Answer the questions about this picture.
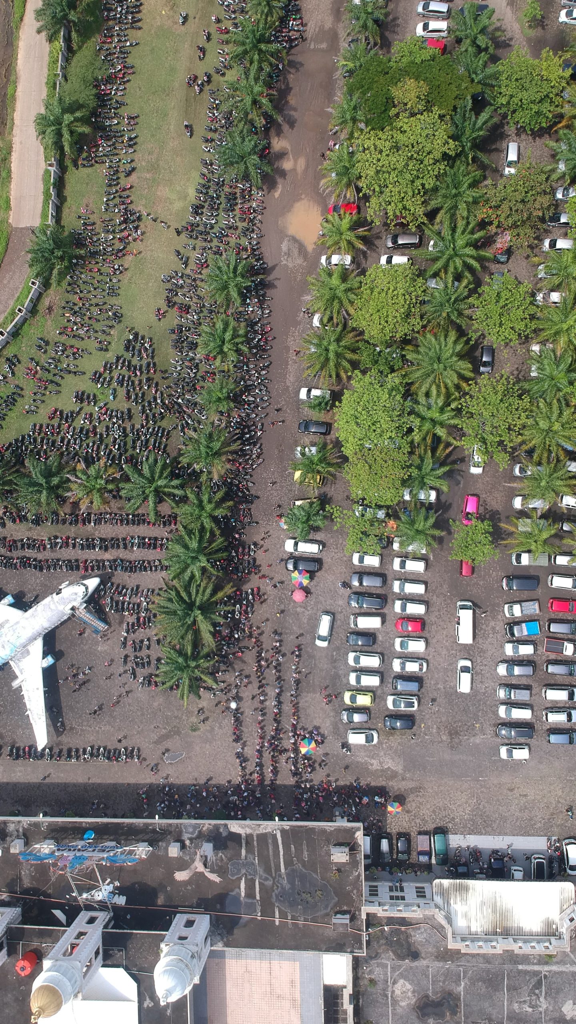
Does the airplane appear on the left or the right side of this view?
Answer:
left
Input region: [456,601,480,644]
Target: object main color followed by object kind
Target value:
white vehicle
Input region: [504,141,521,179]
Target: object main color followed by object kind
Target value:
white car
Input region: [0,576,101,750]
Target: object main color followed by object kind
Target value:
white airplane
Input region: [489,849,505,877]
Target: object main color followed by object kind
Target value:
black car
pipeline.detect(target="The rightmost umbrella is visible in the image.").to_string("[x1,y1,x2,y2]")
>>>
[387,799,402,815]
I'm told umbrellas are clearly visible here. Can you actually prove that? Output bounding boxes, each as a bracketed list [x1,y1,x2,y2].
[292,569,310,587]
[387,799,402,815]
[280,516,290,529]
[300,737,317,754]
[293,589,306,602]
